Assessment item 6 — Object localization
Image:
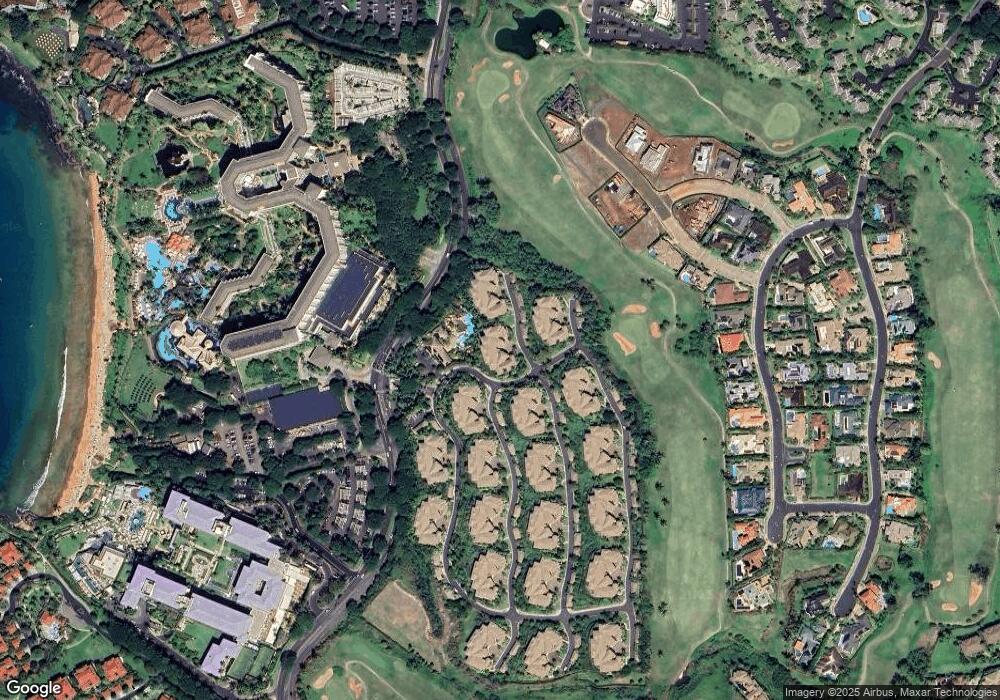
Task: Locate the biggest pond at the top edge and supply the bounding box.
[495,9,563,59]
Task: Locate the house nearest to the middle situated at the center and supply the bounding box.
[479,324,515,374]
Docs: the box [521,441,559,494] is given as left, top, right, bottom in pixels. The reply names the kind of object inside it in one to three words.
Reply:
house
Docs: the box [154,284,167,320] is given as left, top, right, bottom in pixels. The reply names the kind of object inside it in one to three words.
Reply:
swimming pool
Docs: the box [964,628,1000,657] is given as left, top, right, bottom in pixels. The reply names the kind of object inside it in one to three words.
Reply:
building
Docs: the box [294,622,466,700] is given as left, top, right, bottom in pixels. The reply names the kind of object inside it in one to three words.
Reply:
golf course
